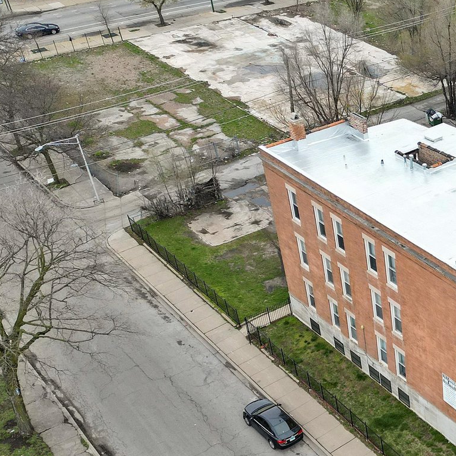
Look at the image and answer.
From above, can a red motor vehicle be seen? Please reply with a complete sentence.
No, there appears to be no red motor vehicle in this shot.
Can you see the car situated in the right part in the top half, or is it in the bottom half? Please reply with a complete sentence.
The car situated in the right part is in the bottom half of the image.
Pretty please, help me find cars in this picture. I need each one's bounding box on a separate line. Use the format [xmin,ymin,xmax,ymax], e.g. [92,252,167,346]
[241,399,307,456]
[15,20,58,37]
